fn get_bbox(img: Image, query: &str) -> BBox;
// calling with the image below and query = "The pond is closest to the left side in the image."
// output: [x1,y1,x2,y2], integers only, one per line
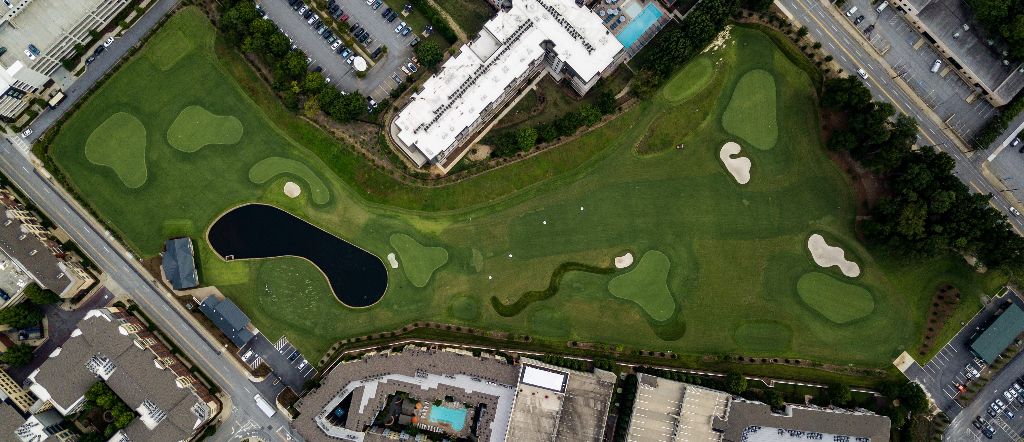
[205,202,388,309]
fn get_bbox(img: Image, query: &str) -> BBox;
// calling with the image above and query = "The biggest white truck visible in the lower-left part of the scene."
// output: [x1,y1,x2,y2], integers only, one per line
[255,394,279,419]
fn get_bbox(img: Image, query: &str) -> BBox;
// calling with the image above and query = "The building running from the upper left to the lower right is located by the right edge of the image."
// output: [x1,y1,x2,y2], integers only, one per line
[888,0,1024,106]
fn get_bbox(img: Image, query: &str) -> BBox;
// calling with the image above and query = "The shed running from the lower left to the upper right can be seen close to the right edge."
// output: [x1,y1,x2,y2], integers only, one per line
[965,303,1024,364]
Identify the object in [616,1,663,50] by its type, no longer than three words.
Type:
swimming pool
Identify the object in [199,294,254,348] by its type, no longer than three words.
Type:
building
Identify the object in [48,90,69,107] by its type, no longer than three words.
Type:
vehicle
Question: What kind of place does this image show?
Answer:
golf course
